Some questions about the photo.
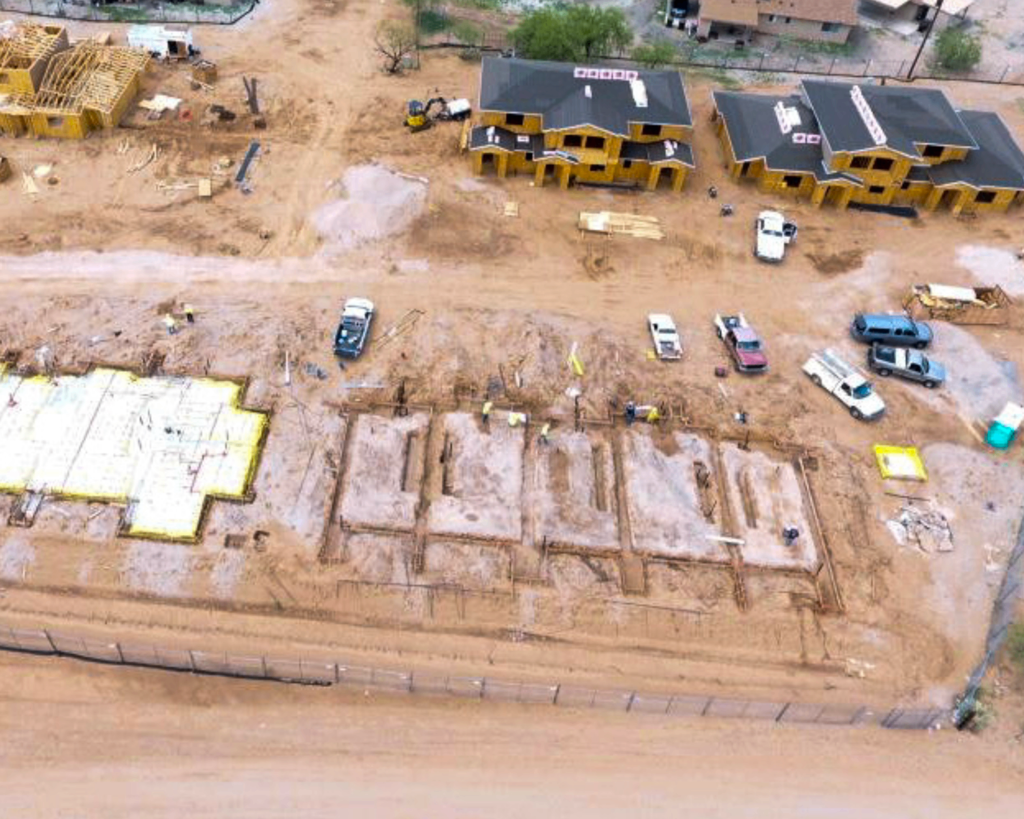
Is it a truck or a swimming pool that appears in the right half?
truck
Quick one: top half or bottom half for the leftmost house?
top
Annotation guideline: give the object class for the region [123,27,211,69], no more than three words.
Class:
trailer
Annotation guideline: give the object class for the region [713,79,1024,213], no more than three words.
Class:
house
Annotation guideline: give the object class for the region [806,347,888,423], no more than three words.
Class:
truck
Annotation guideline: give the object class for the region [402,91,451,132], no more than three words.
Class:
work vehicle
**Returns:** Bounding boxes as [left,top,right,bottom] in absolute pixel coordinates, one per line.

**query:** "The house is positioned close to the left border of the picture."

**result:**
[0,16,158,141]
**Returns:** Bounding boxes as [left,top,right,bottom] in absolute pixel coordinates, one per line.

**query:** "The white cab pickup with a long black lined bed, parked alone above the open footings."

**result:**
[330,300,374,357]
